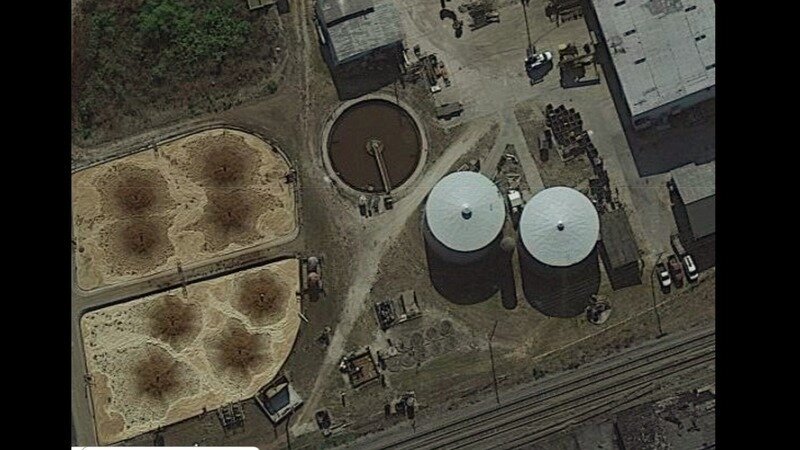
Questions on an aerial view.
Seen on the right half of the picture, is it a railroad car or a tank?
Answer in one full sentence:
Visible on the right half of the picture is a tank.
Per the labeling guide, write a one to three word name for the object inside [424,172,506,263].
storage tank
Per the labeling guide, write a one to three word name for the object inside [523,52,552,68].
vehicle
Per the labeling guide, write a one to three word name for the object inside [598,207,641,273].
shed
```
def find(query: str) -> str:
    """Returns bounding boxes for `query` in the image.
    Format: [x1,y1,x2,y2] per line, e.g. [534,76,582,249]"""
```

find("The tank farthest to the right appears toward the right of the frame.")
[517,187,601,278]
